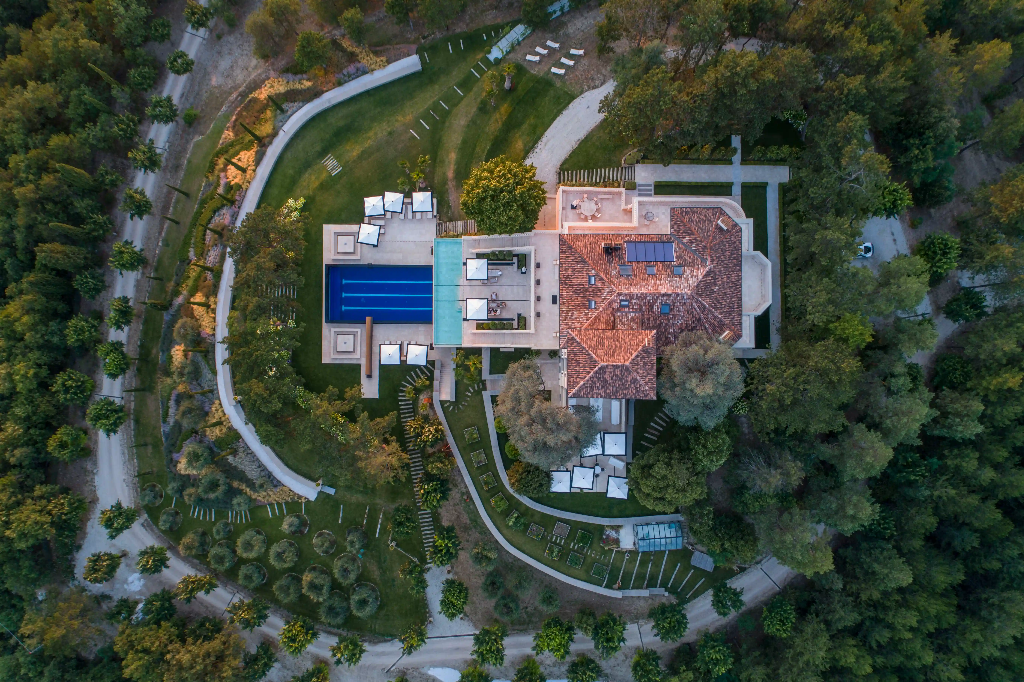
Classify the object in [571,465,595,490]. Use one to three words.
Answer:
umbrella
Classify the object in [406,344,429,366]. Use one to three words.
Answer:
umbrella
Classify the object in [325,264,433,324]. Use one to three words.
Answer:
swimming pool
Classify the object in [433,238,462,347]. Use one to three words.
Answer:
swimming pool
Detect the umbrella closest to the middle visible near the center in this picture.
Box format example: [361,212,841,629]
[466,298,489,321]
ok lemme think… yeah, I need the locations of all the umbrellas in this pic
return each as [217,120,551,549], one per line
[411,192,434,213]
[466,298,489,321]
[602,432,627,456]
[383,192,405,214]
[356,223,382,247]
[549,470,571,493]
[364,196,386,218]
[466,258,489,281]
[379,344,401,365]
[582,431,603,458]
[406,344,429,366]
[606,475,630,500]
[571,465,595,490]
